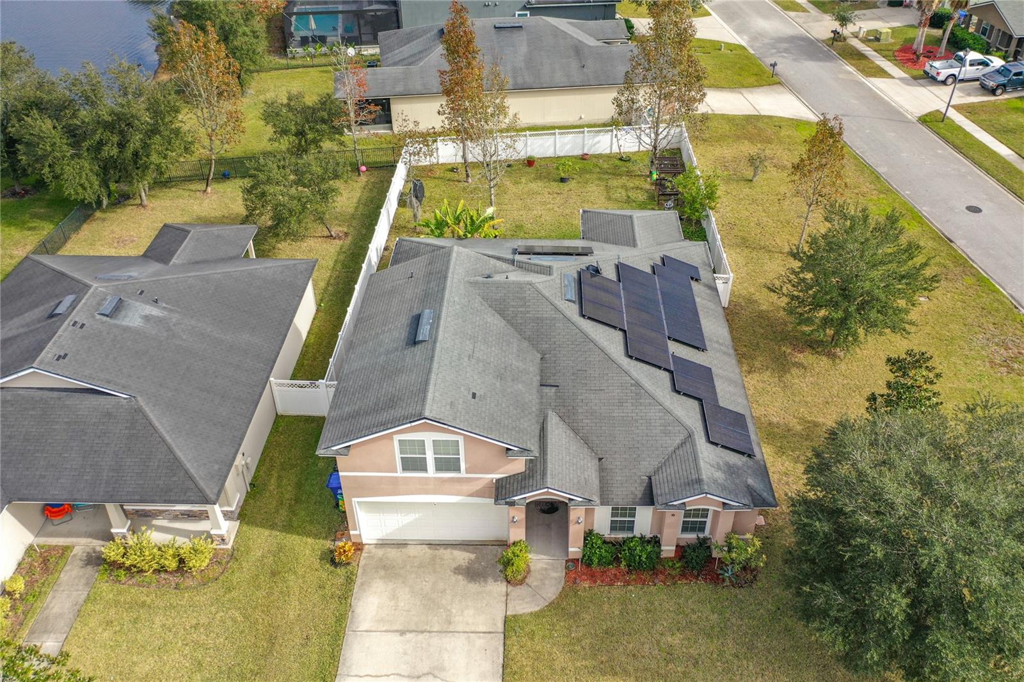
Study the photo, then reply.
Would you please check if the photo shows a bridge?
No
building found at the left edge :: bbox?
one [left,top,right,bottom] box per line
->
[0,224,319,604]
